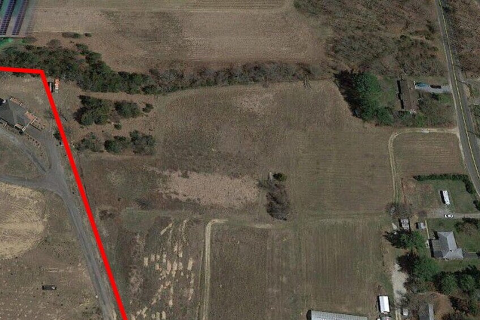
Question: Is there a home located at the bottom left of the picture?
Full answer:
No, I can find no home at the bottom left of the picture.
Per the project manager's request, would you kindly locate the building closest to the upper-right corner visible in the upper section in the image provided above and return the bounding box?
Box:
[401,77,421,115]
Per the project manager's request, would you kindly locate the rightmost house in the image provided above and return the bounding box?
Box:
[431,230,462,260]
